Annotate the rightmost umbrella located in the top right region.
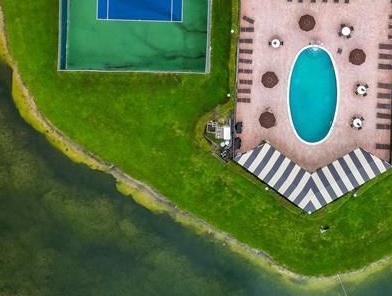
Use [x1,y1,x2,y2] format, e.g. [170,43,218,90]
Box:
[348,48,365,65]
